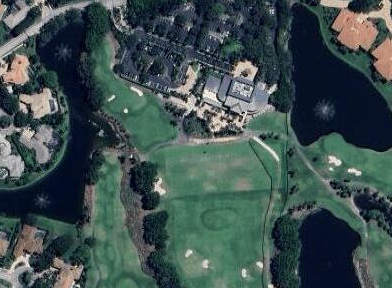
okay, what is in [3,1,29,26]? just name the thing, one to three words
house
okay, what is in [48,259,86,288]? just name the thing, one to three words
building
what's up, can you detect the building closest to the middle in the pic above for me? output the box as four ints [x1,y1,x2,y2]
[195,72,255,119]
